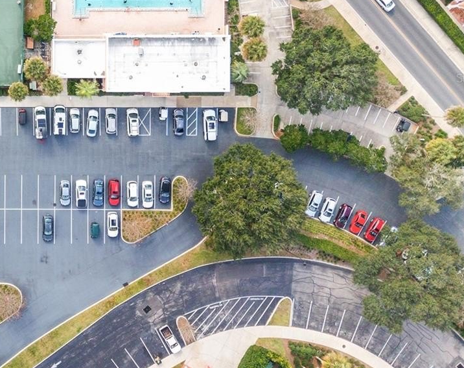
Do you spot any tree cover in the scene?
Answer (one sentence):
Yes, there is tree cover in the image.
